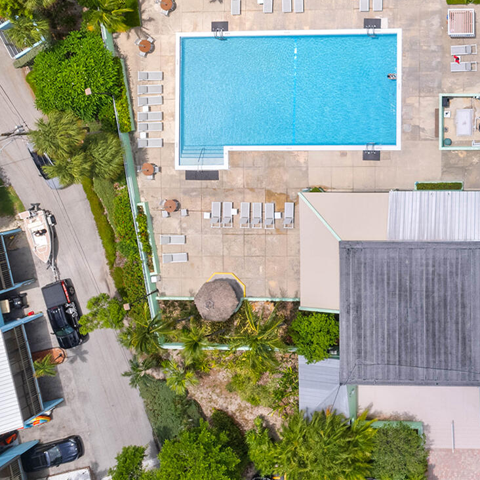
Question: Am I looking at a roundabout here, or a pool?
pool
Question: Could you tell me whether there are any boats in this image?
Yes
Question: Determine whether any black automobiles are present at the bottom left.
Yes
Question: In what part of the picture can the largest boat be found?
left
